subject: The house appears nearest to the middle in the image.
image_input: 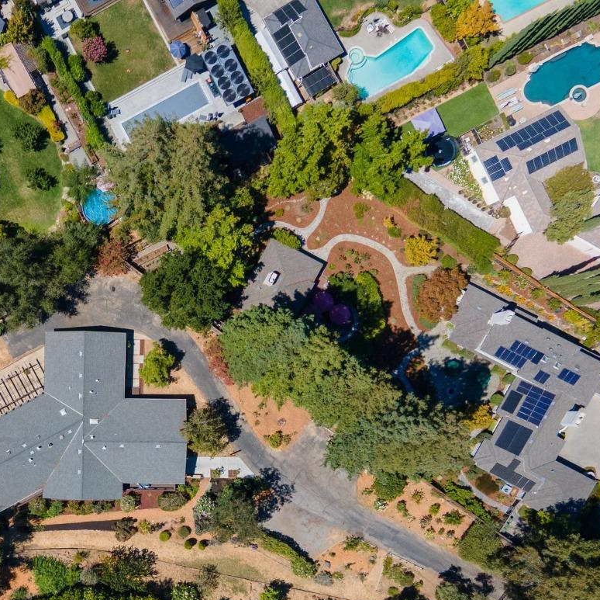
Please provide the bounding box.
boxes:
[239,238,327,317]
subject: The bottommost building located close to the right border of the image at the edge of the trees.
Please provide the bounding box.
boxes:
[439,281,600,503]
